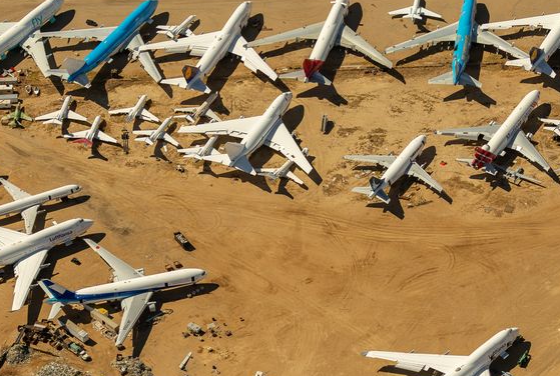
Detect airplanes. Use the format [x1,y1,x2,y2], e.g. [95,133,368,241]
[0,219,94,312]
[36,238,206,345]
[176,136,218,163]
[388,0,440,20]
[34,98,89,125]
[257,160,307,188]
[432,92,552,177]
[177,95,314,178]
[478,13,560,78]
[0,0,64,77]
[342,136,441,203]
[357,329,520,376]
[152,16,195,37]
[64,118,118,145]
[132,118,183,146]
[26,1,162,91]
[381,0,532,87]
[495,165,547,189]
[0,178,79,235]
[244,0,393,87]
[108,96,160,122]
[174,95,224,123]
[136,3,279,96]
[1,101,32,129]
